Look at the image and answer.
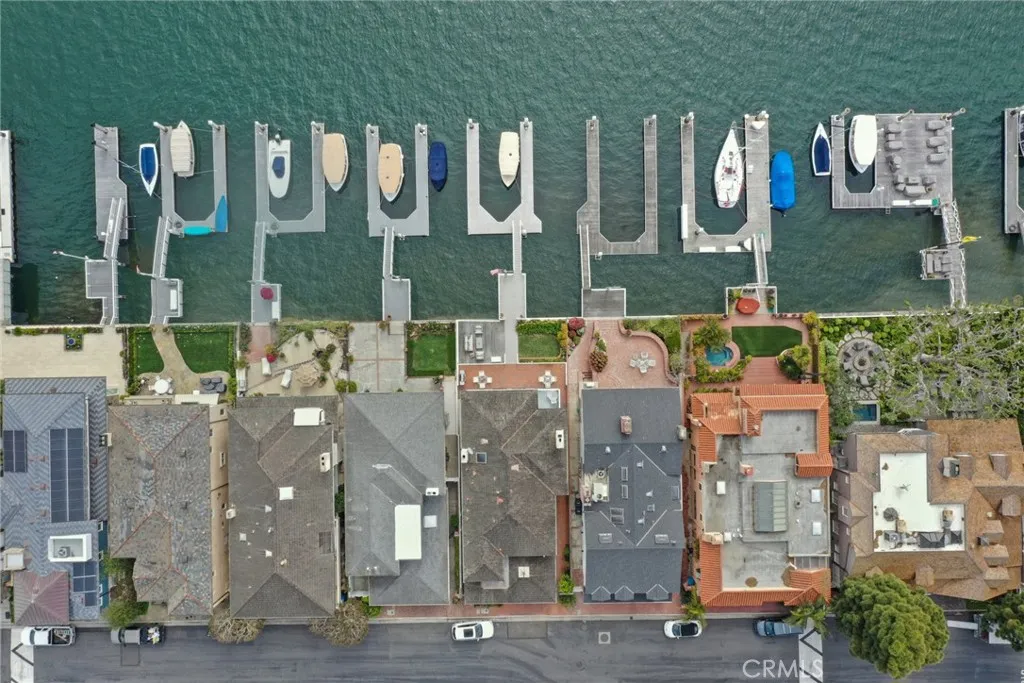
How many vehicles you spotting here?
5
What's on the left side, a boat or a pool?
boat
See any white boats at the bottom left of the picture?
No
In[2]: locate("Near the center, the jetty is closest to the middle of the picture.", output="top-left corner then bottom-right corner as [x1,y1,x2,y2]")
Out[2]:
[498,273,526,320]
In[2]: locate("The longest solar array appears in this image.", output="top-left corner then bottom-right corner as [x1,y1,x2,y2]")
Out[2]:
[51,429,84,522]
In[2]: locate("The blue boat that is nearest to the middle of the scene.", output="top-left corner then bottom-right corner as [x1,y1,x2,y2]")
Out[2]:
[429,141,448,192]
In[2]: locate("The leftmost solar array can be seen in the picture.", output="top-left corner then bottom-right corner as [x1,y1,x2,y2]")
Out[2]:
[3,431,26,472]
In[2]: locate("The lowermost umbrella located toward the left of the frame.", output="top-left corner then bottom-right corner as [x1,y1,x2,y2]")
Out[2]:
[297,364,320,387]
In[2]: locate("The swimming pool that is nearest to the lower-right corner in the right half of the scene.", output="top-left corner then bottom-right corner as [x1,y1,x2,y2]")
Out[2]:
[852,403,878,424]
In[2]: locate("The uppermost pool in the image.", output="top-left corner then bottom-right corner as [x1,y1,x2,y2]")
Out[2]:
[705,342,737,369]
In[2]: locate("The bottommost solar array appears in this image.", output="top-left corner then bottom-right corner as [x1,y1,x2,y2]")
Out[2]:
[73,562,97,606]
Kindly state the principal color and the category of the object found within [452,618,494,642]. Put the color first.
white car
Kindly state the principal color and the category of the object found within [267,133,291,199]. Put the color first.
white boat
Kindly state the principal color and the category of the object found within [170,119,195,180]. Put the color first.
white boat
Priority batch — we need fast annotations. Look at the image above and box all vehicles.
[663,617,701,640]
[113,623,167,648]
[452,618,494,642]
[23,623,78,648]
[753,614,801,638]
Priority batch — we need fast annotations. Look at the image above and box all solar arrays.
[73,562,97,606]
[51,429,84,522]
[3,431,26,472]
